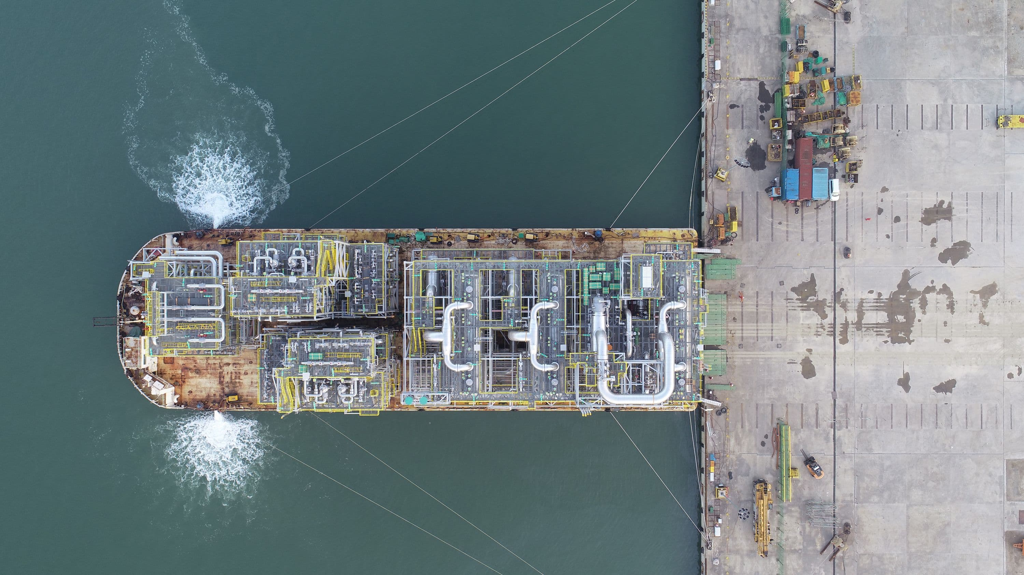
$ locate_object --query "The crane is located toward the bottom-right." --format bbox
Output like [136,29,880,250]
[753,477,774,558]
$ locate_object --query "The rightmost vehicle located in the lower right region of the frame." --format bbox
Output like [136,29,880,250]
[800,449,825,479]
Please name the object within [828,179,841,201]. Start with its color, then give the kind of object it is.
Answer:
white vehicle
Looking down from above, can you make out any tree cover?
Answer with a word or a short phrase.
No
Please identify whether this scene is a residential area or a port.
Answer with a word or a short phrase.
port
